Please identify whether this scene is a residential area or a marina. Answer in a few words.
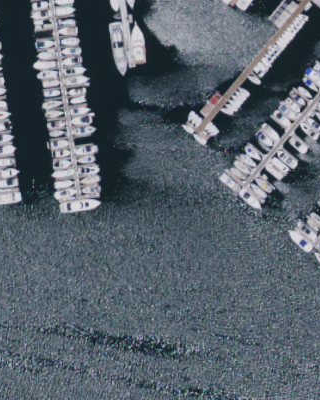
marina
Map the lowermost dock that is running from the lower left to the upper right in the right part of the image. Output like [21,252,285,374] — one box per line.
[224,72,320,196]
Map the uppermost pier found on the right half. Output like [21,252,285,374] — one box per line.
[195,0,311,134]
